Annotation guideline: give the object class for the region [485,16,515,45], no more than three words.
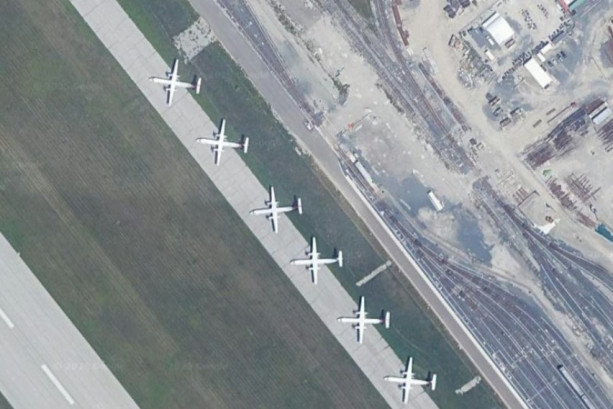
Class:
building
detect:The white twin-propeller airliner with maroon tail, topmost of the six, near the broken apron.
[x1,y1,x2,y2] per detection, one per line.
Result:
[150,59,201,105]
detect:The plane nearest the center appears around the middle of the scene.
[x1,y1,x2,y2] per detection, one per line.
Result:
[250,186,302,234]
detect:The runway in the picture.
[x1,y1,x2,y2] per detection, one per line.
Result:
[0,233,139,409]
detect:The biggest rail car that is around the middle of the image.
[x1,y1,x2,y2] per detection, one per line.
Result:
[356,163,374,182]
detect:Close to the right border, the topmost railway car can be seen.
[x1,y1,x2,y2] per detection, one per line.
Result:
[560,368,585,396]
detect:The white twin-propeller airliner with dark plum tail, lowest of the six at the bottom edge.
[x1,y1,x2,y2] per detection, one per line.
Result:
[384,357,436,404]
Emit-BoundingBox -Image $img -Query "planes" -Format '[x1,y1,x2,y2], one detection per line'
[196,119,247,166]
[290,238,342,284]
[150,59,201,105]
[338,296,389,344]
[250,186,302,234]
[384,357,436,404]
